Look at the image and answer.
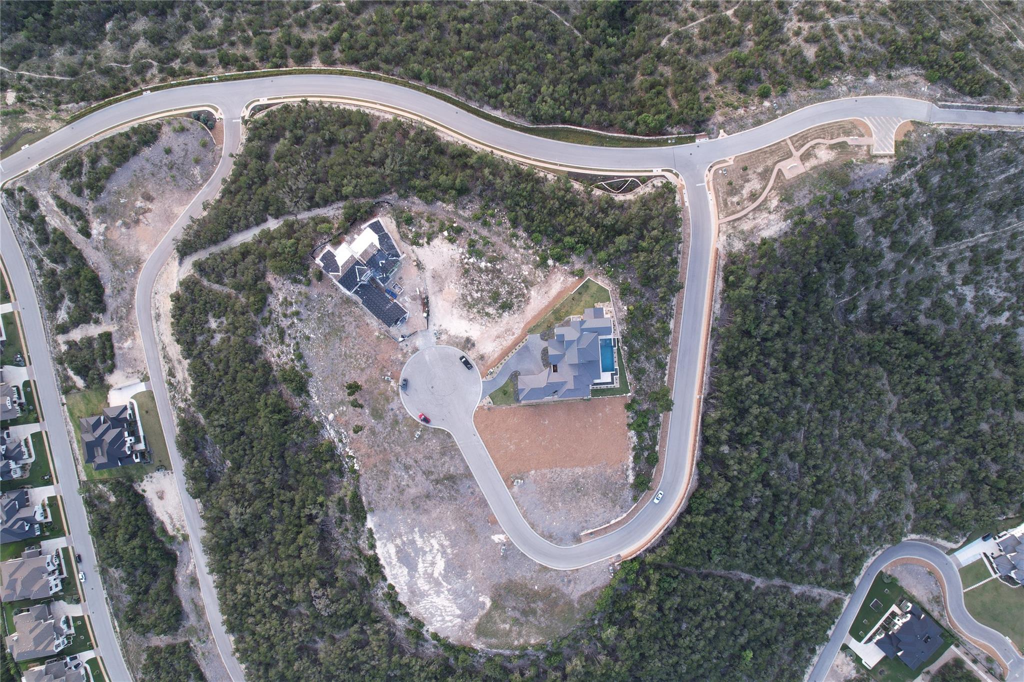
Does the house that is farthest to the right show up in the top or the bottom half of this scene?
bottom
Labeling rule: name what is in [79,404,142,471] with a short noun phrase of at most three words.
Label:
house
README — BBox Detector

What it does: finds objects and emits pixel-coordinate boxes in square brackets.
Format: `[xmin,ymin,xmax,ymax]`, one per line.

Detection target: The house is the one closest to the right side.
[987,524,1024,585]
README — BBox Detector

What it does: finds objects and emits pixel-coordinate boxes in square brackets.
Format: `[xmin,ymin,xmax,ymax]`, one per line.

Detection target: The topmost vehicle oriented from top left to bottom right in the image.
[458,355,473,371]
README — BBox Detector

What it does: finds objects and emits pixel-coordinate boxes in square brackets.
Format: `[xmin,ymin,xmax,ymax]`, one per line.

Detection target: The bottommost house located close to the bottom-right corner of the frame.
[868,597,948,674]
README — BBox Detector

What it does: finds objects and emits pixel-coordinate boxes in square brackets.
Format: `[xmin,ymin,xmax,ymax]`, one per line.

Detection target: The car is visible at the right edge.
[981,532,996,544]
